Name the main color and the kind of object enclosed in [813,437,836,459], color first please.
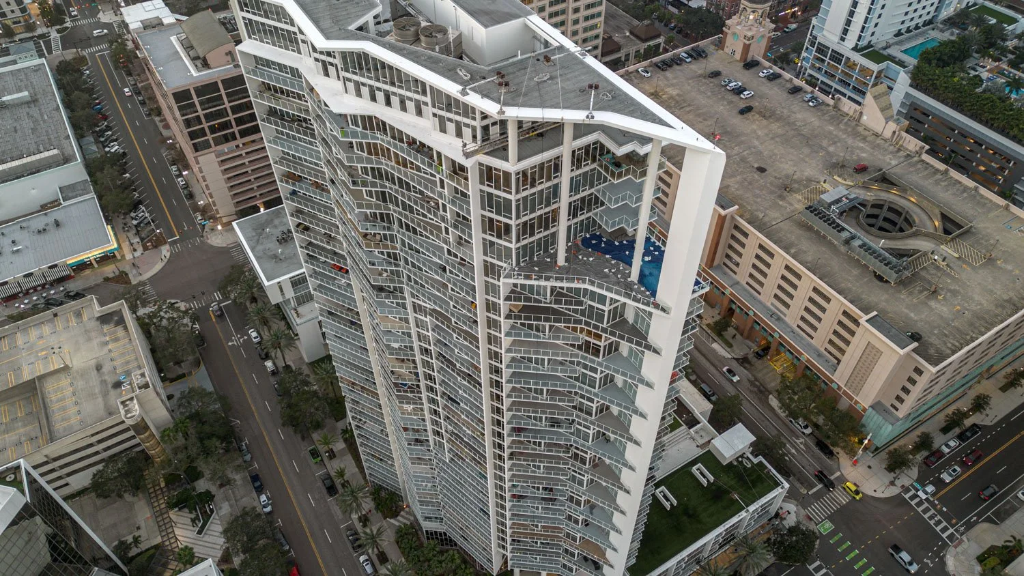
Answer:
black car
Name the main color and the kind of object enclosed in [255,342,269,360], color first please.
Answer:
black car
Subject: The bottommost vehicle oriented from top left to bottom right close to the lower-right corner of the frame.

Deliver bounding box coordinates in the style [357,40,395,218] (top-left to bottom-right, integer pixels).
[891,542,917,574]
